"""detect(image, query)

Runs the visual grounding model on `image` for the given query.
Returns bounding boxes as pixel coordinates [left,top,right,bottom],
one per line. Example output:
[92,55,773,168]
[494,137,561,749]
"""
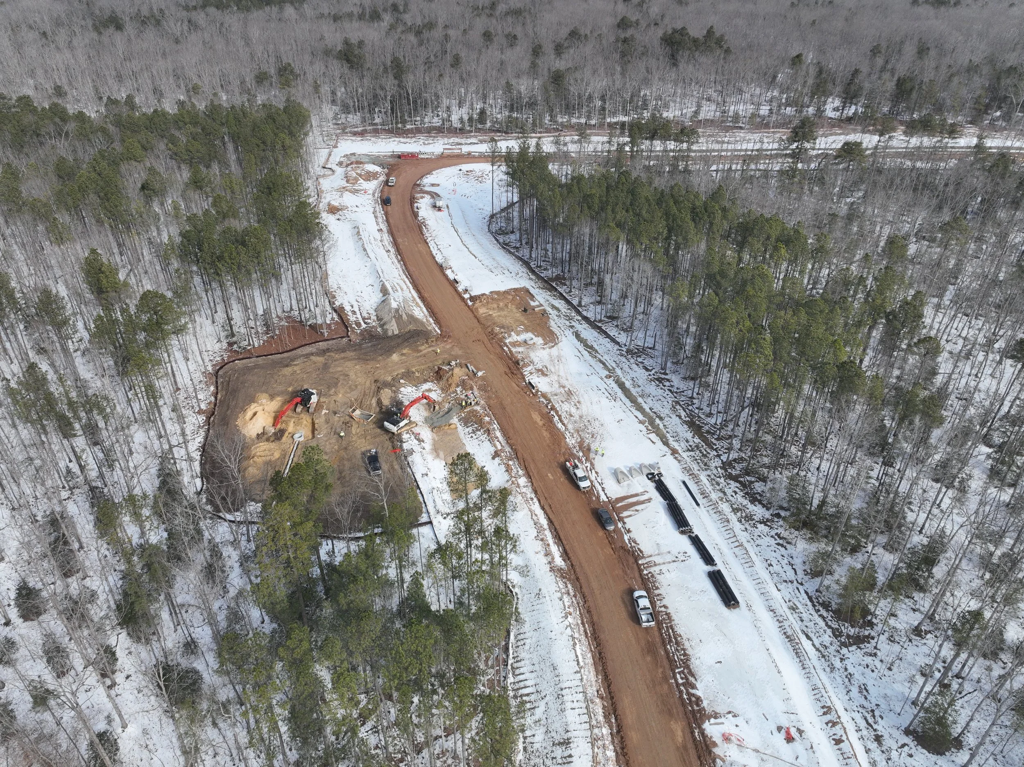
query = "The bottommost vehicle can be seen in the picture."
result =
[634,589,657,627]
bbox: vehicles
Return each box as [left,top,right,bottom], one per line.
[390,393,441,437]
[634,589,657,627]
[266,388,322,428]
[569,461,591,490]
[598,507,617,531]
[365,448,382,475]
[388,177,397,186]
[384,196,391,205]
